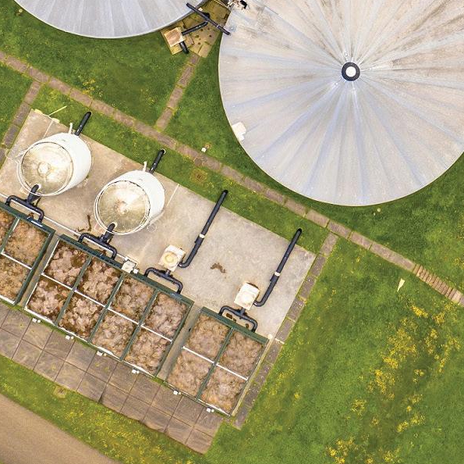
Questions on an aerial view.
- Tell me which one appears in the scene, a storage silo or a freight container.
storage silo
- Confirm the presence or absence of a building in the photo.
No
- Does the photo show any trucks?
No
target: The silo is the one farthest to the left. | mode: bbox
[4,110,92,224]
